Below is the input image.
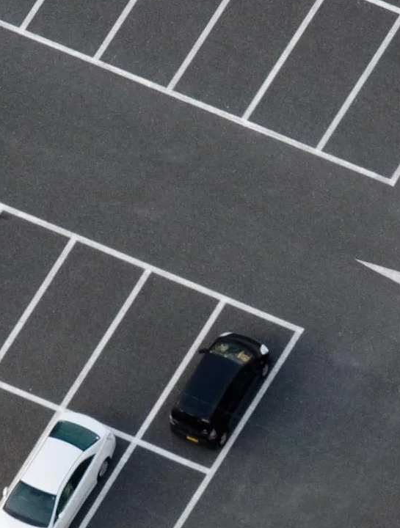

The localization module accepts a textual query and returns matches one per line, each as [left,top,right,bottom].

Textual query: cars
[0,414,114,528]
[171,334,272,450]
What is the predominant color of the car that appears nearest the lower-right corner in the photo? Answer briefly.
black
